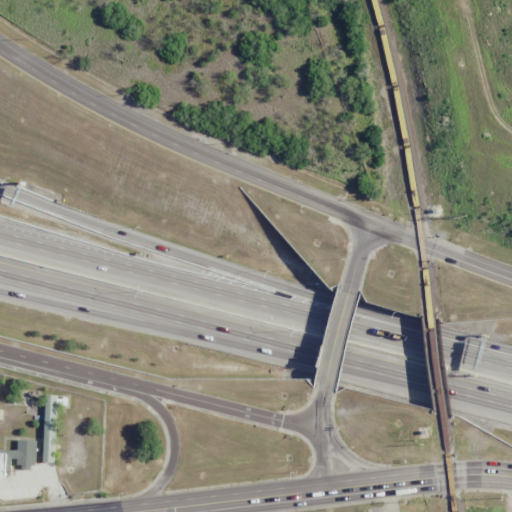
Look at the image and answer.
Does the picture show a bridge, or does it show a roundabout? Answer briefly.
bridge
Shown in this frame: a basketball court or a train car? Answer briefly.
train car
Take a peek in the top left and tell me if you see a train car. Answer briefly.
No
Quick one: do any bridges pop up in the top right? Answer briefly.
No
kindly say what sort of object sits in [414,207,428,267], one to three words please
rail car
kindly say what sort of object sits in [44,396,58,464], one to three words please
building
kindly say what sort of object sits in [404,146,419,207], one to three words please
rail car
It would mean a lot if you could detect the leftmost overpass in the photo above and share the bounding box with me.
[313,288,360,394]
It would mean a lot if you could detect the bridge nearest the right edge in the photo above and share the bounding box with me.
[420,314,454,421]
